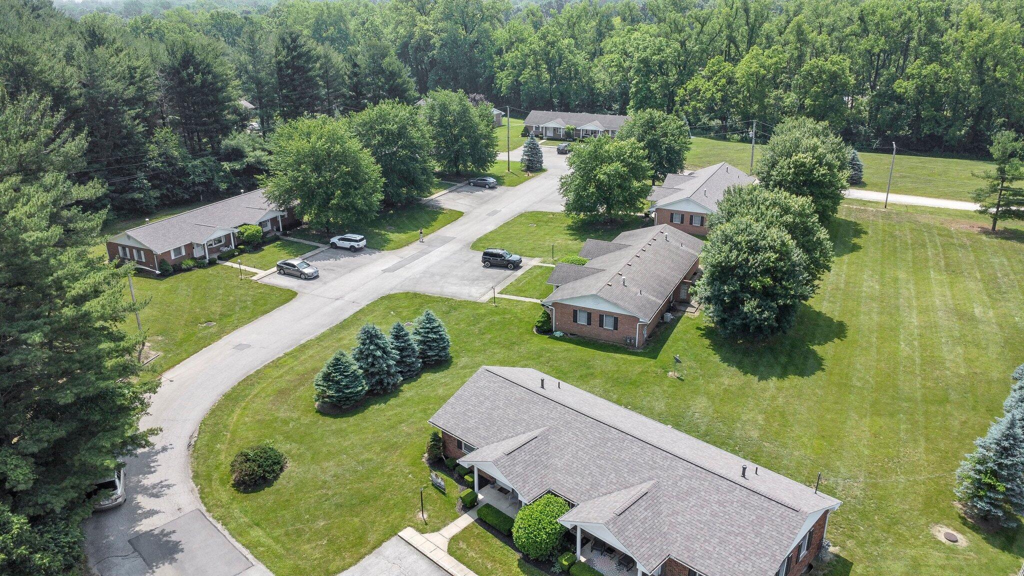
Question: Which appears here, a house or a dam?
house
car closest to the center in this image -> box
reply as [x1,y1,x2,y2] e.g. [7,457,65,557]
[478,245,525,270]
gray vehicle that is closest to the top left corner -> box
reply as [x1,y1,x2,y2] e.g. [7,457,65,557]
[275,258,320,279]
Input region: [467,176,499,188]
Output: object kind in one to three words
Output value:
vehicle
